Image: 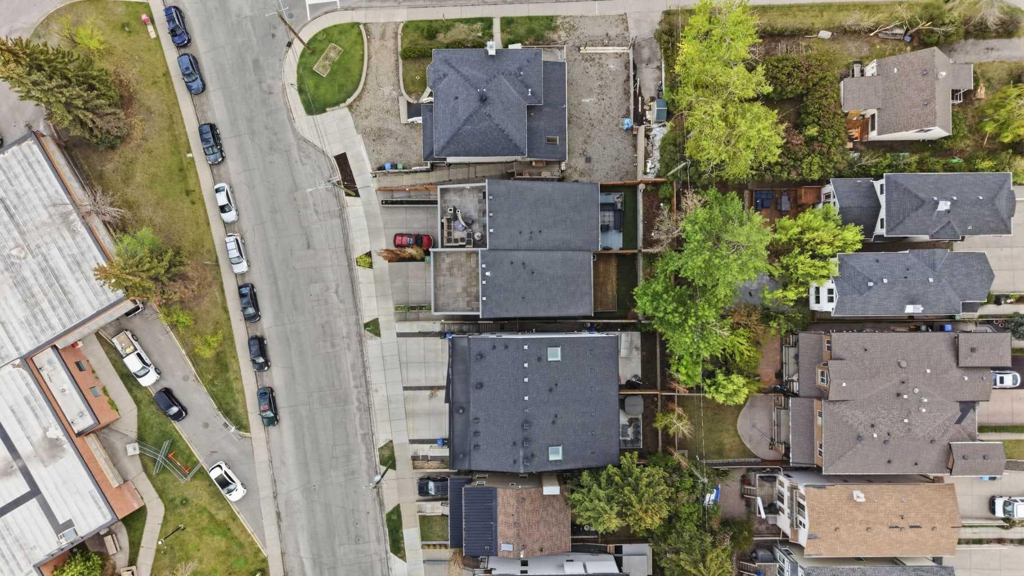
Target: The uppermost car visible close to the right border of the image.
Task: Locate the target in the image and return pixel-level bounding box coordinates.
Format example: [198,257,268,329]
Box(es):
[993,369,1021,390]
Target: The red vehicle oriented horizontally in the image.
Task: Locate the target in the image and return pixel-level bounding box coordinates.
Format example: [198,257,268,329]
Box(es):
[394,232,434,252]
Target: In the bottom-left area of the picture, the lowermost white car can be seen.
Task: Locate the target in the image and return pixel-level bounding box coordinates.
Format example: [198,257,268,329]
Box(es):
[209,460,245,501]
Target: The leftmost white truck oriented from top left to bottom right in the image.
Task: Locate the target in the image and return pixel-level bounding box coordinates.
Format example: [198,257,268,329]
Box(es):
[113,329,158,384]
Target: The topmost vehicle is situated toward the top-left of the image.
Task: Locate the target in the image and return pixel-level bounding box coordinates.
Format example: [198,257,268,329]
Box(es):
[163,4,195,49]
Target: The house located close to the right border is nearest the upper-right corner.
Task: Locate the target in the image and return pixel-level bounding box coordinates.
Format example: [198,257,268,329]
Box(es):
[833,47,973,141]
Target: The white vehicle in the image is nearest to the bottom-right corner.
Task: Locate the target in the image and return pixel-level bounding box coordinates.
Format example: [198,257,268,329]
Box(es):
[988,497,1024,520]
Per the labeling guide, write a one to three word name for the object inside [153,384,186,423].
car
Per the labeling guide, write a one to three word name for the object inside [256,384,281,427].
car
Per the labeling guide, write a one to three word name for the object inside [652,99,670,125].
shed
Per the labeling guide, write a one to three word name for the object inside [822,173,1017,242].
house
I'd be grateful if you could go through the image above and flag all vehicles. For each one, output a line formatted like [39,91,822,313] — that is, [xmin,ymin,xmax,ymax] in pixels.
[224,232,252,275]
[988,497,1024,520]
[209,460,245,501]
[246,334,272,372]
[394,232,434,252]
[417,477,448,500]
[236,281,263,324]
[214,181,241,224]
[113,329,158,384]
[177,52,208,95]
[993,369,1021,390]
[197,121,227,165]
[153,384,186,423]
[256,384,281,427]
[163,4,195,49]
